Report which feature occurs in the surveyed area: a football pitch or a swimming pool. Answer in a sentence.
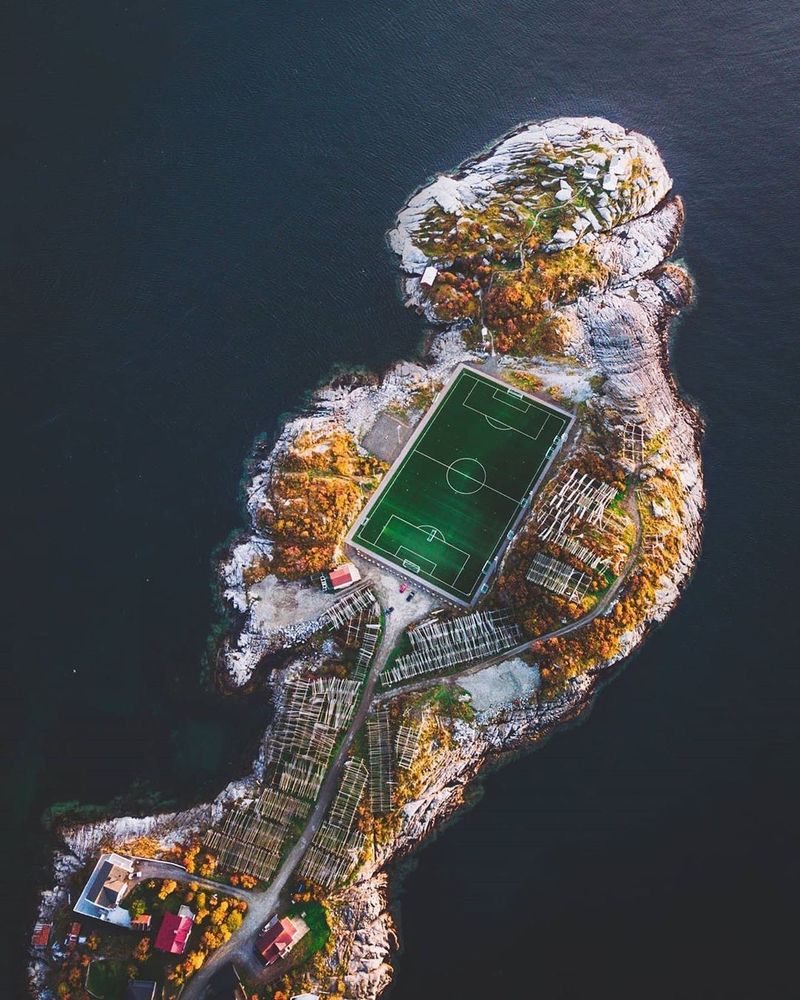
It is a football pitch that can be seen here.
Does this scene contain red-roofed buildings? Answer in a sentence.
Yes, looking at the shot, I can spot a red-roofed building.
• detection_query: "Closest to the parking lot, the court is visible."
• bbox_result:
[361,412,410,464]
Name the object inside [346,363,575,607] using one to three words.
soccer field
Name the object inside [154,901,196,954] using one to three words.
house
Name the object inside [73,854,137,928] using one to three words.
house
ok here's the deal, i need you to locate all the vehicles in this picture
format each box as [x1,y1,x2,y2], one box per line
[385,606,395,615]
[406,591,415,601]
[400,583,408,593]
[130,871,143,879]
